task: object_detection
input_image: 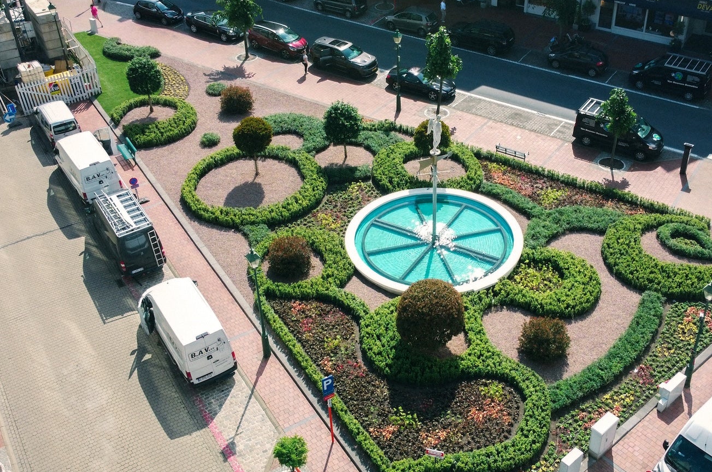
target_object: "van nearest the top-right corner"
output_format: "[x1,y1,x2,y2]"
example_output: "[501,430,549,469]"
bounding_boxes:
[628,51,712,99]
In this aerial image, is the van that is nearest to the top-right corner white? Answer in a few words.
No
